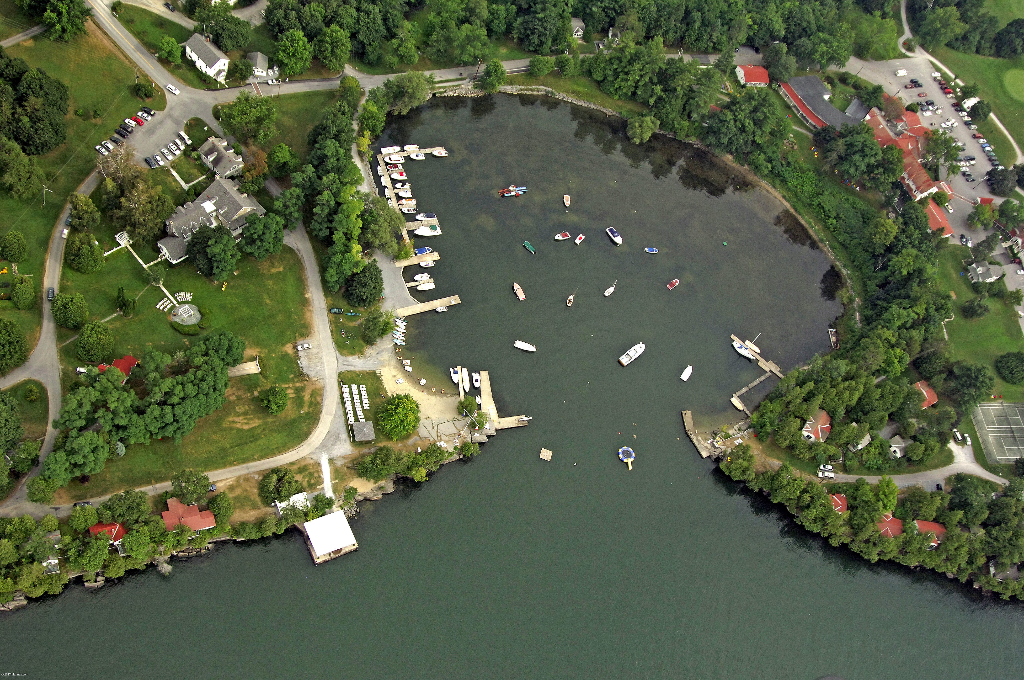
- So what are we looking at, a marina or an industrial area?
marina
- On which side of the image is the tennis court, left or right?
right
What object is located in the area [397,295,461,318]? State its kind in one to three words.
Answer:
pier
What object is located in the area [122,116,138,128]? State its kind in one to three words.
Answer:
vehicle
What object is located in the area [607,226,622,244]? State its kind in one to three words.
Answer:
boat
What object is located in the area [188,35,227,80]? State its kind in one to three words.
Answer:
house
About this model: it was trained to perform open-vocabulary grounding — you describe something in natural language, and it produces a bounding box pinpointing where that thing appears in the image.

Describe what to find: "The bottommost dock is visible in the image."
[295,510,358,565]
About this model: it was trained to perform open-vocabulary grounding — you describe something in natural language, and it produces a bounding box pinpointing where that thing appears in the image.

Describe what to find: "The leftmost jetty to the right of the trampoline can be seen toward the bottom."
[681,411,712,459]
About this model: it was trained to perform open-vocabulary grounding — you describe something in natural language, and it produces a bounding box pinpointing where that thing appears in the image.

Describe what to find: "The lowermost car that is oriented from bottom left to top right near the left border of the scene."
[30,454,43,470]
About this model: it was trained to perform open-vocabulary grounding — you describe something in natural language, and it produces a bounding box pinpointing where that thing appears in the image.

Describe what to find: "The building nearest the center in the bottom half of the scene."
[352,421,375,444]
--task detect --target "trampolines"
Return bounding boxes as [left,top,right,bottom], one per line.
[618,446,635,470]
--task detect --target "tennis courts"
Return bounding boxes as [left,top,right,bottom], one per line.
[971,401,1024,464]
